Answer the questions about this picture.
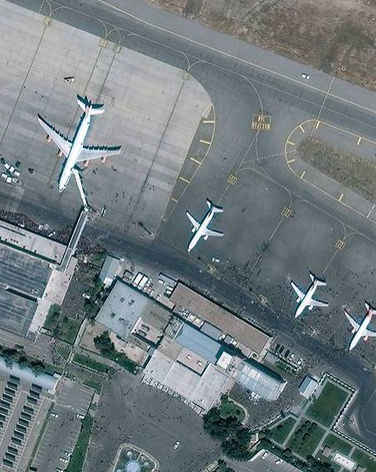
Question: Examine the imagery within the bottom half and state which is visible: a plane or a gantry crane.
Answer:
plane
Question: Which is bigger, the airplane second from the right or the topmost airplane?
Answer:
the topmost airplane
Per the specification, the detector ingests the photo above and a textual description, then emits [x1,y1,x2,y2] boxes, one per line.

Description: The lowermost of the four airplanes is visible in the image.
[345,304,376,350]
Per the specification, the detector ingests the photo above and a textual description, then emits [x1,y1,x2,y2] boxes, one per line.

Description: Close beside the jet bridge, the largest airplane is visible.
[41,99,121,192]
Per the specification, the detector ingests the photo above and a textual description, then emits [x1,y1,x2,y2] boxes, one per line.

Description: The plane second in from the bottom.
[292,274,328,318]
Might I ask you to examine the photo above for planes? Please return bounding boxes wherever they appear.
[292,274,328,318]
[188,200,224,251]
[345,304,376,350]
[41,99,121,192]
